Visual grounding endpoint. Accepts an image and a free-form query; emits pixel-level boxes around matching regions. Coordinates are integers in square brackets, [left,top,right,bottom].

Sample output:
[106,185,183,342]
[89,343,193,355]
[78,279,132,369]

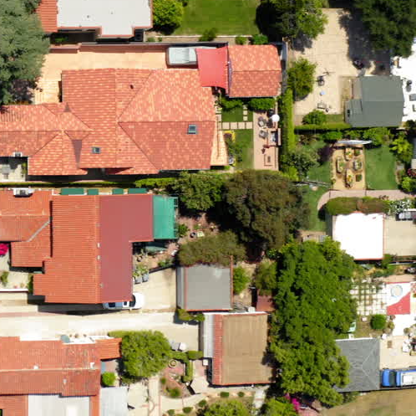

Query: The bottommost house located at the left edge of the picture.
[0,333,128,416]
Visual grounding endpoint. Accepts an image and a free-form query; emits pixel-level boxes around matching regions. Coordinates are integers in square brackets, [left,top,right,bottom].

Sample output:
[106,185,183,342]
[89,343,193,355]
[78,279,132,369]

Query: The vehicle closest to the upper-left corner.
[161,45,208,67]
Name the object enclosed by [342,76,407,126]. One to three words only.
shed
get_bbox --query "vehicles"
[161,45,208,67]
[97,292,144,313]
[380,367,416,389]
